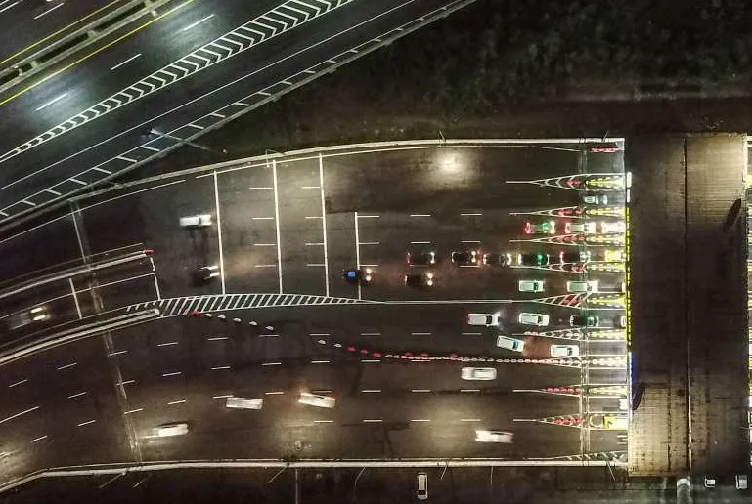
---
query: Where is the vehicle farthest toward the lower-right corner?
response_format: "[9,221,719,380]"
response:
[735,475,750,489]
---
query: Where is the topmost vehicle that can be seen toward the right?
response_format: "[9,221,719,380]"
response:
[585,192,609,206]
